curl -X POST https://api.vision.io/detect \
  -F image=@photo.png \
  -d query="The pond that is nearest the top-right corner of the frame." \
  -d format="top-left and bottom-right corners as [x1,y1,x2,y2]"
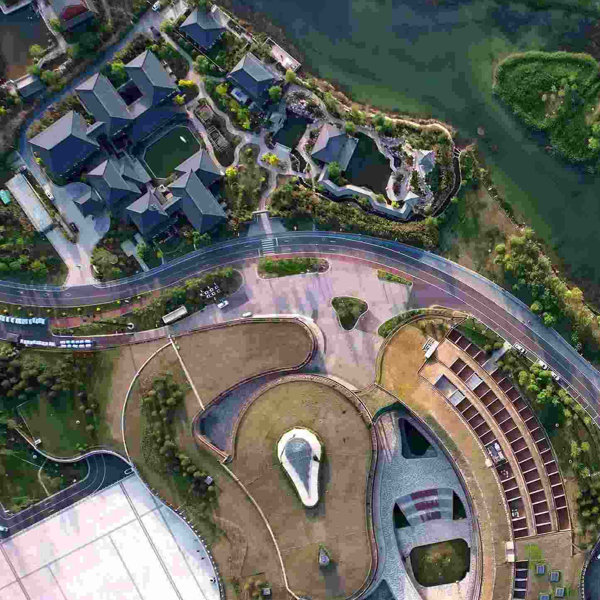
[344,134,391,194]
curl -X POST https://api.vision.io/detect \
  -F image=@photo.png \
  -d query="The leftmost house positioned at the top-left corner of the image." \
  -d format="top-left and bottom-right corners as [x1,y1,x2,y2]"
[16,72,50,98]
